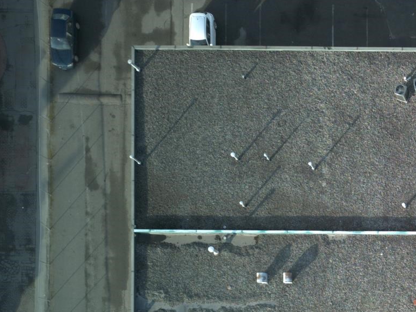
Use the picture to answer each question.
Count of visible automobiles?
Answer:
2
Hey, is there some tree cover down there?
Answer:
No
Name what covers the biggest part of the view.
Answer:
buildings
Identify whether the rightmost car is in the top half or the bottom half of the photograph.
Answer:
top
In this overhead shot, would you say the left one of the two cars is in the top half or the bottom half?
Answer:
top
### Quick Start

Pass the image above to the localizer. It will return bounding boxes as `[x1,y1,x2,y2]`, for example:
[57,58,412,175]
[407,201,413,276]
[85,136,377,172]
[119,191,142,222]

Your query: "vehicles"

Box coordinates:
[186,5,220,47]
[47,7,85,76]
